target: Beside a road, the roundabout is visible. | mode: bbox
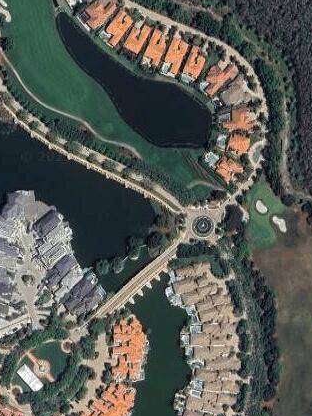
[185,209,220,243]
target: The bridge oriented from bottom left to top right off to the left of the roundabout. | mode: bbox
[89,232,195,324]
